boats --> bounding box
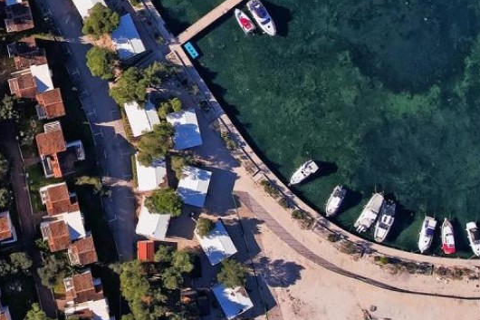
[441,219,456,256]
[235,10,255,34]
[418,214,438,254]
[465,218,480,256]
[353,192,383,232]
[376,198,398,243]
[245,0,280,41]
[289,157,319,186]
[325,182,346,217]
